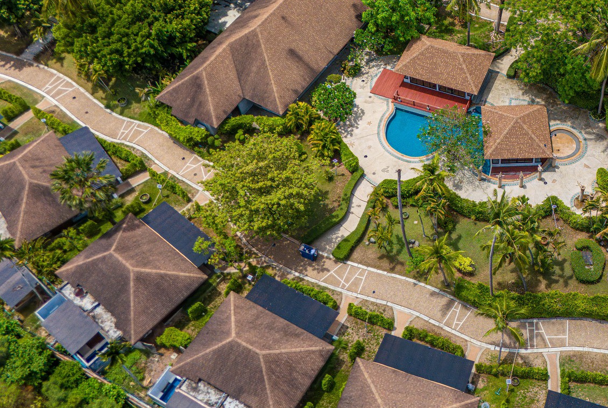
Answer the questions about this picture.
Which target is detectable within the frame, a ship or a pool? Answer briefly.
pool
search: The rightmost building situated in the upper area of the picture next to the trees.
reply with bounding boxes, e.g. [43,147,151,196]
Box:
[480,104,552,181]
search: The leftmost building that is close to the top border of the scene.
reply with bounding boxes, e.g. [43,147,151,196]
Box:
[155,0,373,132]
